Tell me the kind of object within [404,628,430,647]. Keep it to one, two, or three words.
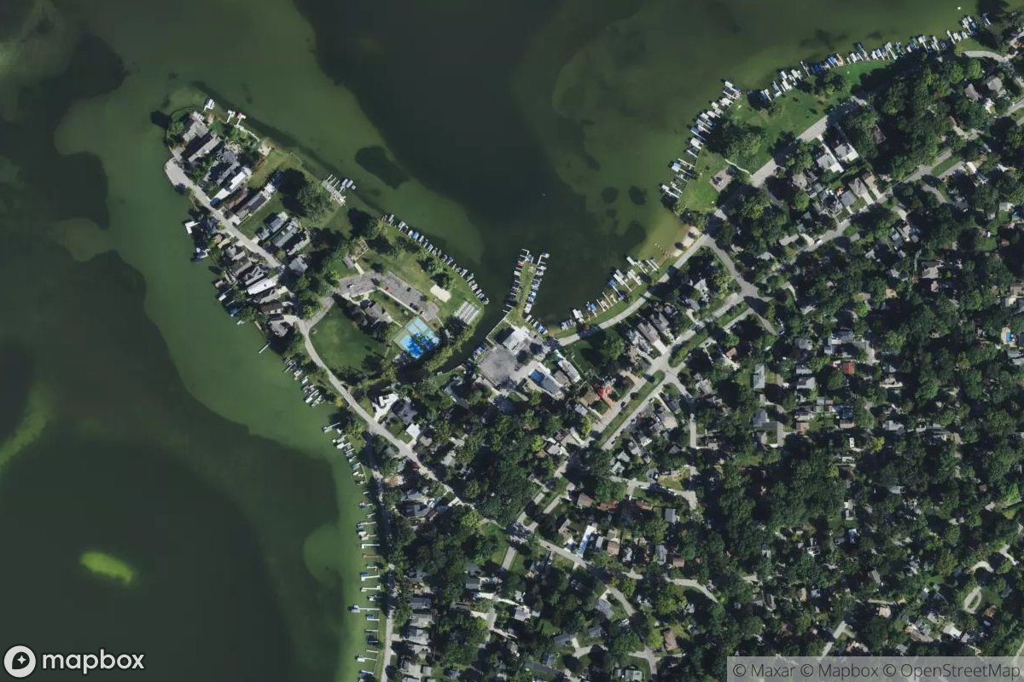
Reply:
house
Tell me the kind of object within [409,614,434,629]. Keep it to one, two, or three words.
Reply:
house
